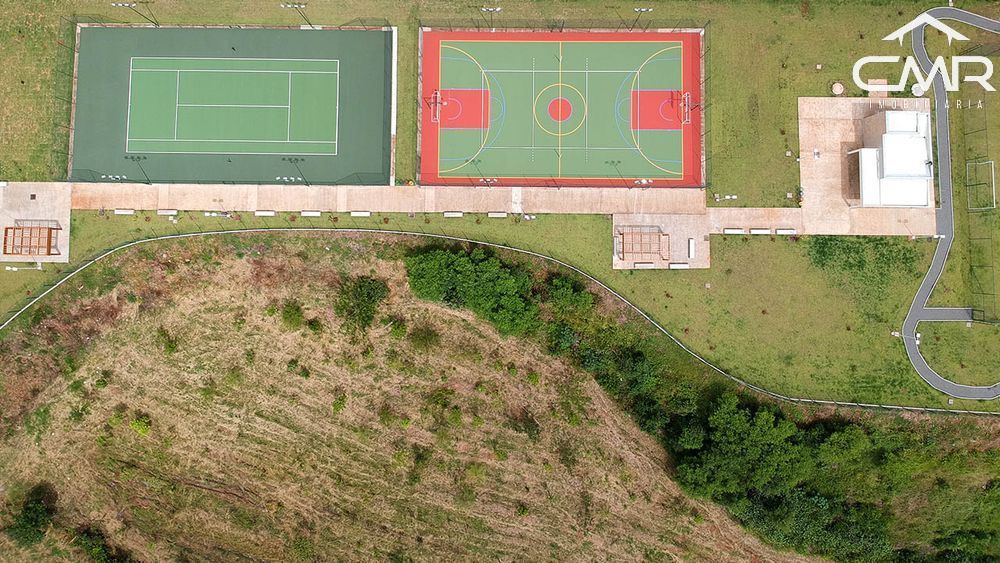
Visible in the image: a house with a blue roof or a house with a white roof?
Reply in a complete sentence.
Of the two, only a house with a white roof appears.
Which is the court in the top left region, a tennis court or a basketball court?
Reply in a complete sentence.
Looking closely, the court in the top left region is a tennis court.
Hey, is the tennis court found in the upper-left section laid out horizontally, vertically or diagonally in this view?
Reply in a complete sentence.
The tennis court found in the upper-left section is laid out horizontally.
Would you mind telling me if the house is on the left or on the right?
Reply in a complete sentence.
The house is on the right side of the image.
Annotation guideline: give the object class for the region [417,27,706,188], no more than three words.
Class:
sports court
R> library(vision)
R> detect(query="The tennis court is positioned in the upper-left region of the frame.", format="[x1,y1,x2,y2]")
[67,23,397,185]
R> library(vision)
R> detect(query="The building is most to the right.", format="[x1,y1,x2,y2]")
[849,110,933,209]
